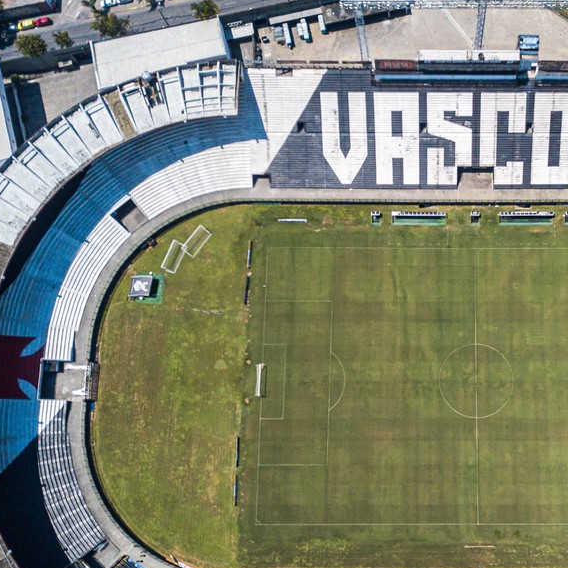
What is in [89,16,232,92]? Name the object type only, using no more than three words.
building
